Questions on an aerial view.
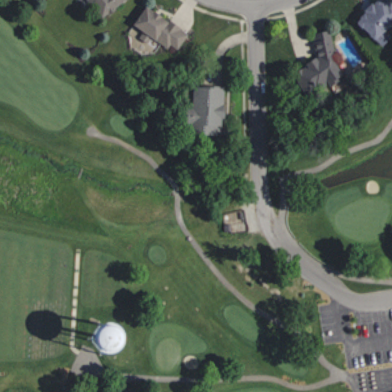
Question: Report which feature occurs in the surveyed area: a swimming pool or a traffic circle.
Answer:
swimming pool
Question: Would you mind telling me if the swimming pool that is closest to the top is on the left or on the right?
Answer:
right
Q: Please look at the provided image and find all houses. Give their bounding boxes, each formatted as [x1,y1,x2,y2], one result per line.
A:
[187,86,226,136]
[299,32,342,92]
[86,0,127,19]
[356,2,392,48]
[134,8,190,50]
